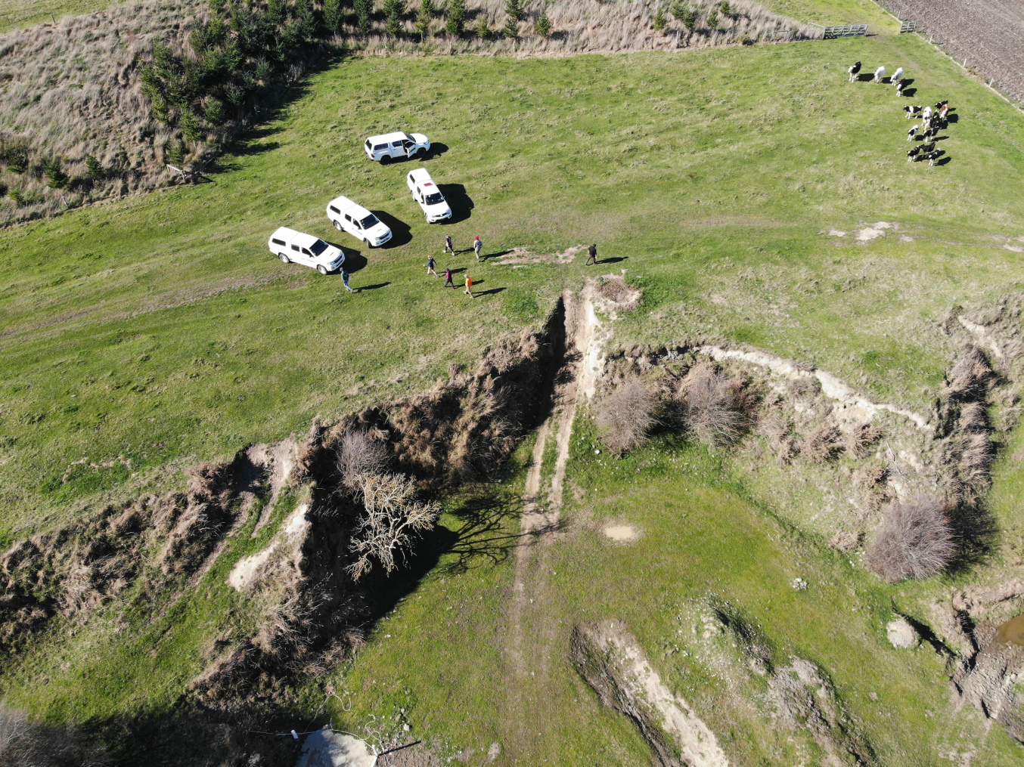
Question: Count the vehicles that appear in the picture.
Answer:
4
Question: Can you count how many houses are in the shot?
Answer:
0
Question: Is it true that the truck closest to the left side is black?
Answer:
No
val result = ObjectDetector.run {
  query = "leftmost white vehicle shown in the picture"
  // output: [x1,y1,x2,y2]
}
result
[263,225,347,275]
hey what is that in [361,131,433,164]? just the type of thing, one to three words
truck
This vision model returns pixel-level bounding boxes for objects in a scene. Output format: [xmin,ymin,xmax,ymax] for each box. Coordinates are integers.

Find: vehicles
[323,195,395,249]
[263,225,347,275]
[405,169,453,223]
[361,131,433,164]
